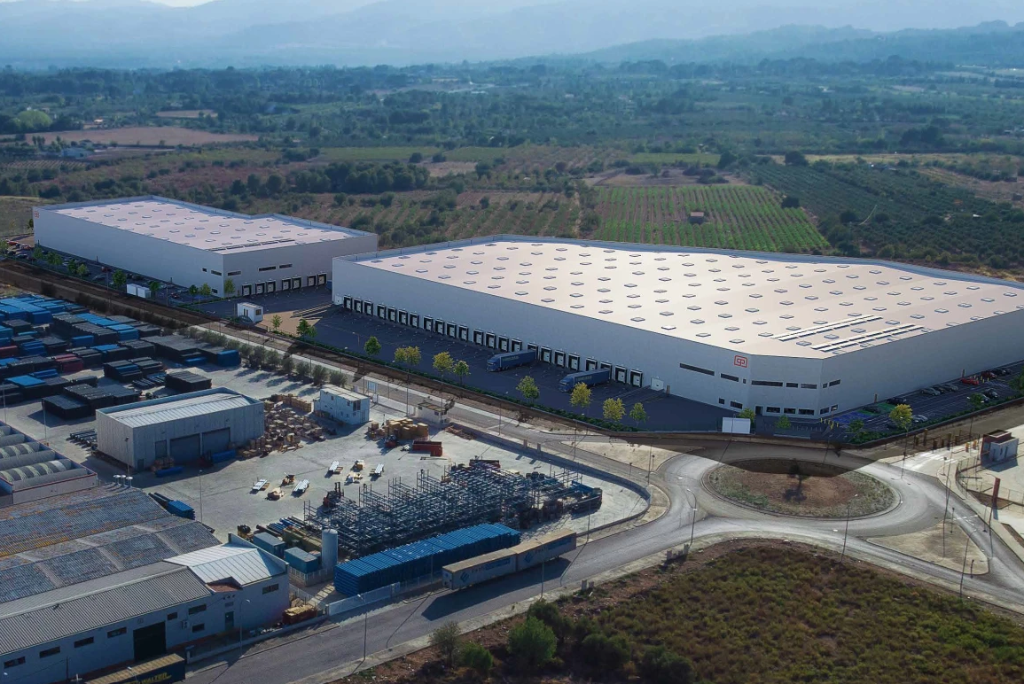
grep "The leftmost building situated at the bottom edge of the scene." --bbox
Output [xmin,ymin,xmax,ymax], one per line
[0,483,223,684]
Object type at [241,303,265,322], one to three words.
building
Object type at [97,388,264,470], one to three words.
building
